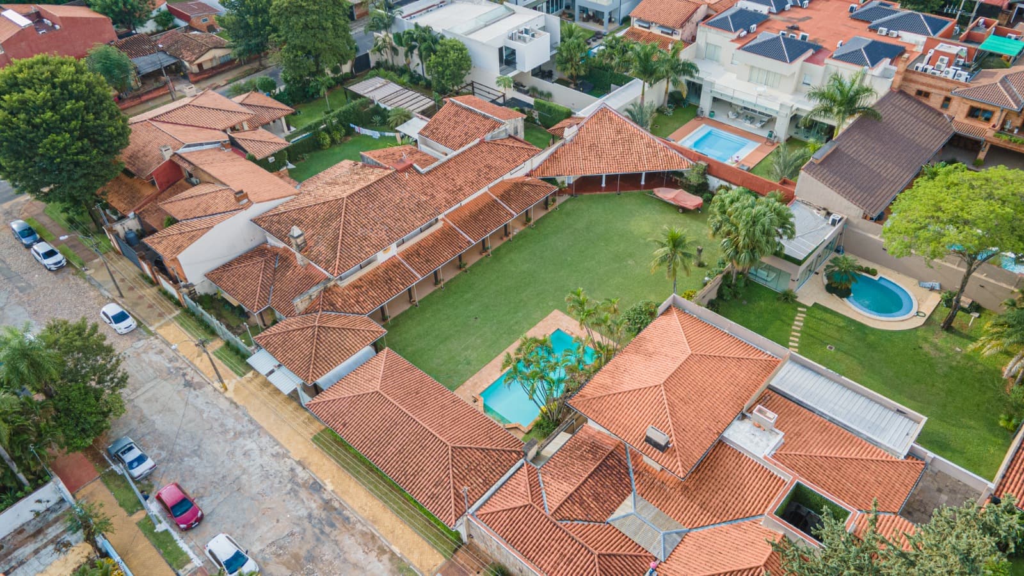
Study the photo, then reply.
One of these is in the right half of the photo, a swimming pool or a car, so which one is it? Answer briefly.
swimming pool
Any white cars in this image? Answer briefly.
Yes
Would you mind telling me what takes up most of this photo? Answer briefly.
buildings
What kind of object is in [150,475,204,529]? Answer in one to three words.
car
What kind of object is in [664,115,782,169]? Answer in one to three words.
swimming pool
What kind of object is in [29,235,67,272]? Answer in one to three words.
car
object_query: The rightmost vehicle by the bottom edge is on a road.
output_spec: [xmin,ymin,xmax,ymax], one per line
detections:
[203,526,262,576]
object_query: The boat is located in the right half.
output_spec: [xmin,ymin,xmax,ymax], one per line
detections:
[643,192,701,215]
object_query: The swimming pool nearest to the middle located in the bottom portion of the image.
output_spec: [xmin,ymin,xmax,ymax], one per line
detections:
[454,310,623,441]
